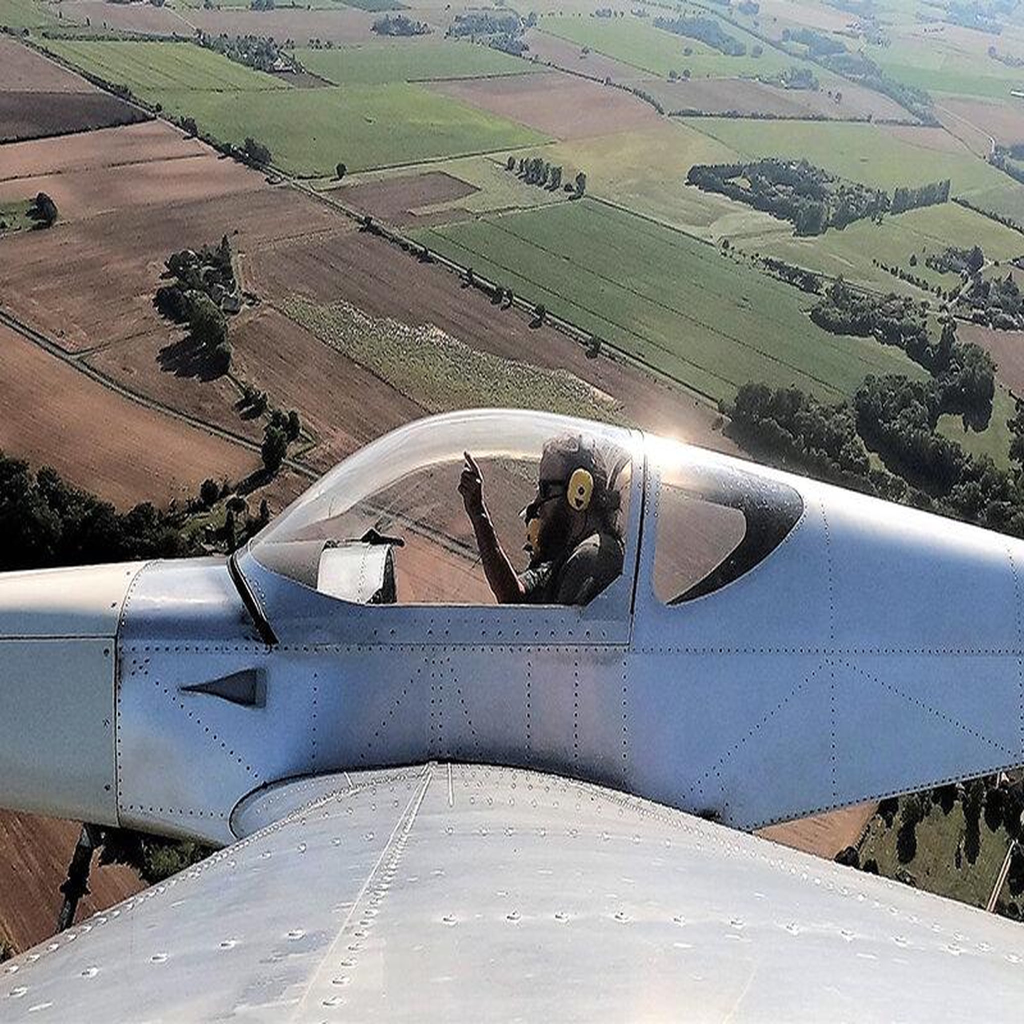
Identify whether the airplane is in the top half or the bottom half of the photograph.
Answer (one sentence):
Seen from above, the airplane lies in the bottom half of the view.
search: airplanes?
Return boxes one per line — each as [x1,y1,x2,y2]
[0,411,1024,1024]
